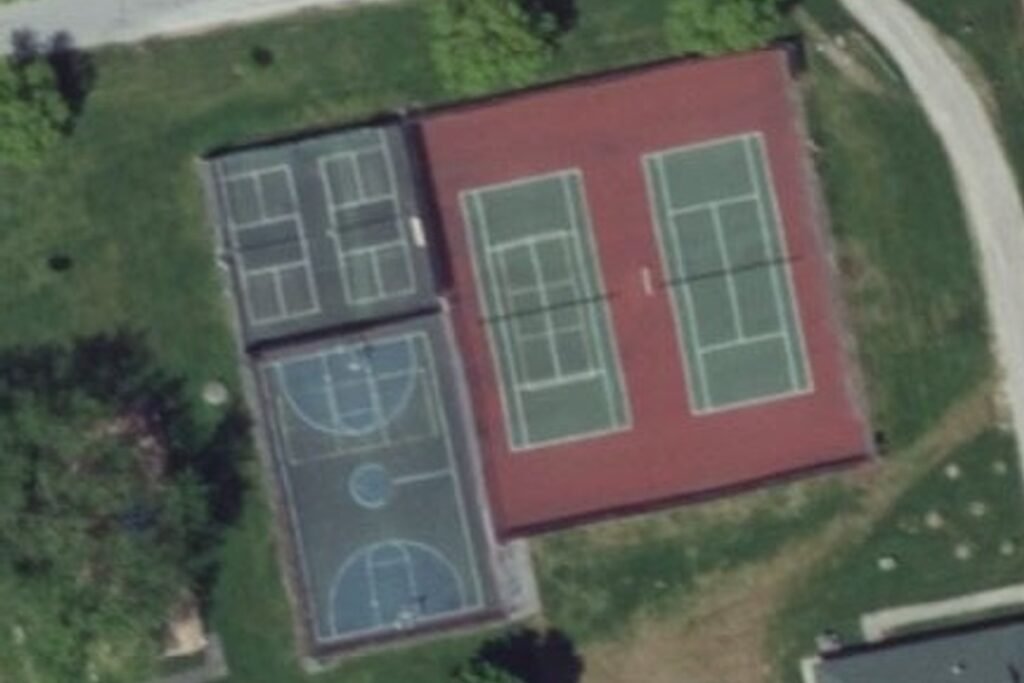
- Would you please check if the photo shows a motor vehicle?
No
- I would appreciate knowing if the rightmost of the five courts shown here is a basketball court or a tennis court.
tennis court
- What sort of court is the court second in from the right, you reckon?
tennis court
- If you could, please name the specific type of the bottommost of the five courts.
basketball court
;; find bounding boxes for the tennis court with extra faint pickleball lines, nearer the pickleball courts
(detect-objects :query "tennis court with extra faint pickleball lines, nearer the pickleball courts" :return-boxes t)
[459,168,633,452]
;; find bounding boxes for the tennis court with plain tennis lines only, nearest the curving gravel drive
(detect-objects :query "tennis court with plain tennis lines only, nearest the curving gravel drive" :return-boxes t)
[642,133,814,415]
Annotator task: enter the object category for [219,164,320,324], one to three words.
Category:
sports court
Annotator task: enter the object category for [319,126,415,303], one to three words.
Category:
sports court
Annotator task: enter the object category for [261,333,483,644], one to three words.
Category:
basketball court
